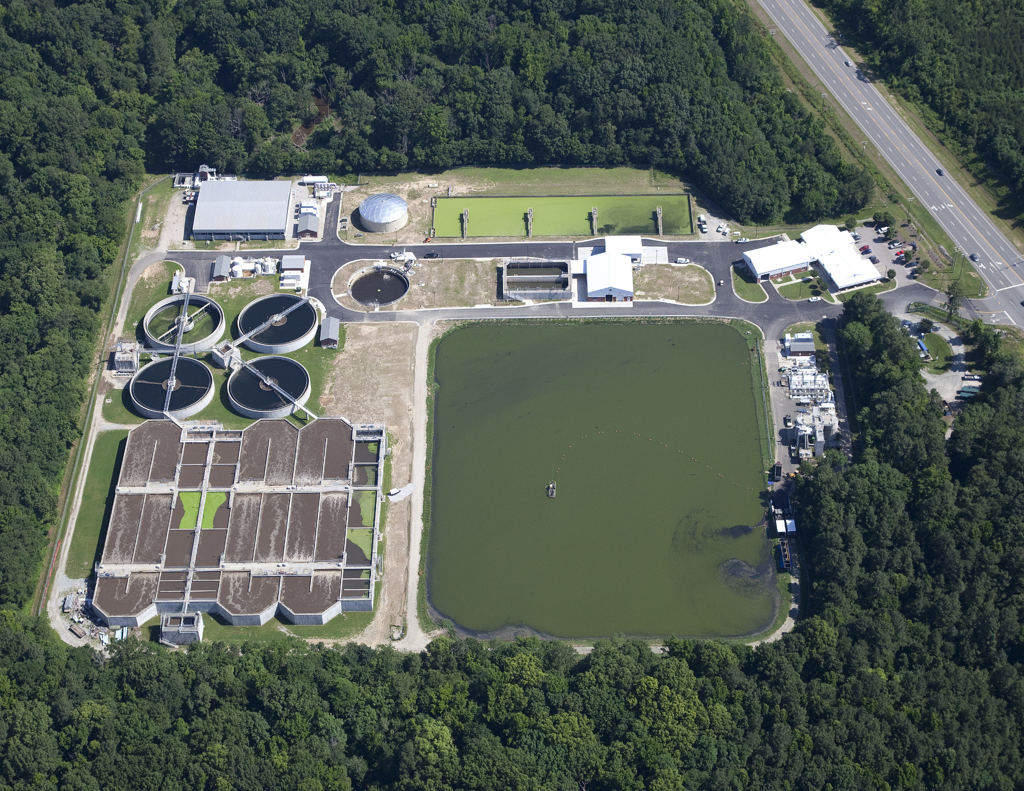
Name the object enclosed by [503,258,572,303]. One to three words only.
water tank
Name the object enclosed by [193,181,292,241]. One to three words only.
shed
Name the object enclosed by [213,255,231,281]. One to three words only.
building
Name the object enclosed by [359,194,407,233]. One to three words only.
storage tank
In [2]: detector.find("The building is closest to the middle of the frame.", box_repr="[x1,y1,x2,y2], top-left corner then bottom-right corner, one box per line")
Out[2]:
[586,251,634,302]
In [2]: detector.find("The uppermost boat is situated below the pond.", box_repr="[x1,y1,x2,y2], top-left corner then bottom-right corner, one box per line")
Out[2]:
[544,480,556,499]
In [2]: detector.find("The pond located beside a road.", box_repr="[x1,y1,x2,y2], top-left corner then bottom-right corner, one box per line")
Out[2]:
[430,191,695,237]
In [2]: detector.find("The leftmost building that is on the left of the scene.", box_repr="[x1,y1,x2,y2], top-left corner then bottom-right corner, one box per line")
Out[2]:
[109,338,142,377]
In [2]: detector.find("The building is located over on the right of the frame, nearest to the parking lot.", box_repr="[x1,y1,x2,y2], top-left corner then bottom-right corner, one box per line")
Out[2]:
[800,225,881,293]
